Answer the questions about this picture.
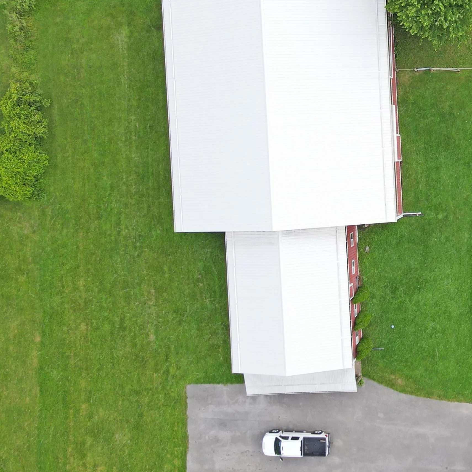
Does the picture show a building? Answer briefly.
Yes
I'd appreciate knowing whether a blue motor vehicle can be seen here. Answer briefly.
No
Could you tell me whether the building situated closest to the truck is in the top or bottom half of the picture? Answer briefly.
bottom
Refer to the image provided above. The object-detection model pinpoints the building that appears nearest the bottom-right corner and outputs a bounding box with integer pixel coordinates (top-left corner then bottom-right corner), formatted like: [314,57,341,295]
[223,226,372,397]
